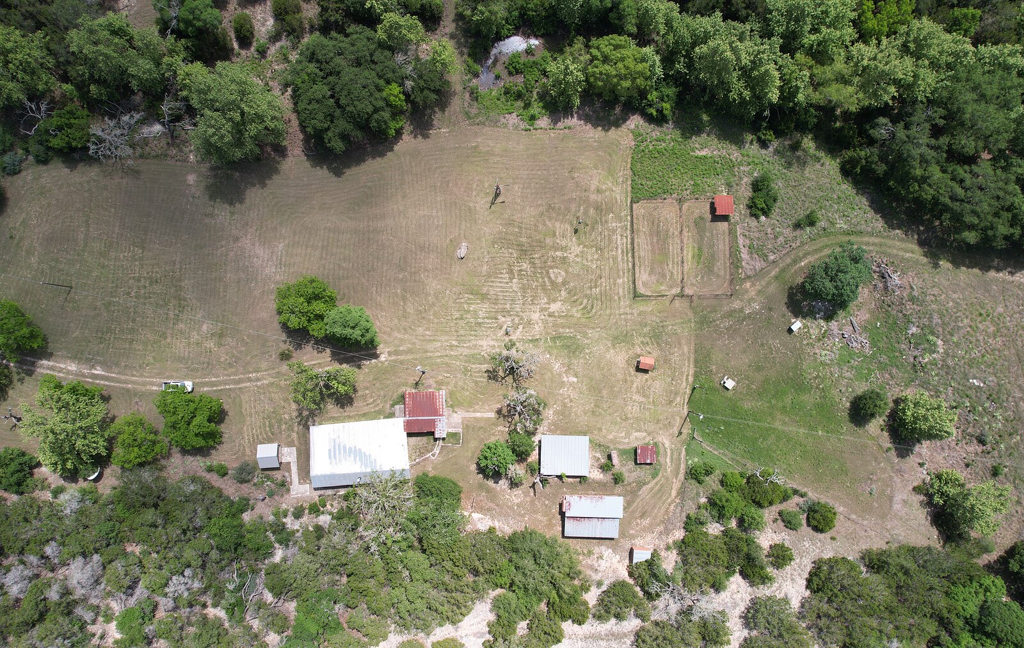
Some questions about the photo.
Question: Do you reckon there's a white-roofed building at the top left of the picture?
No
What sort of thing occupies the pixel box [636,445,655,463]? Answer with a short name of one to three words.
shed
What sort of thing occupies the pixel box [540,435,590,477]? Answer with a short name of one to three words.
shed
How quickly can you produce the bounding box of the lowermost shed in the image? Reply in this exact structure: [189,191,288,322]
[630,544,651,566]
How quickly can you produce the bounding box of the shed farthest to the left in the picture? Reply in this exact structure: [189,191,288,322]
[257,443,283,469]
